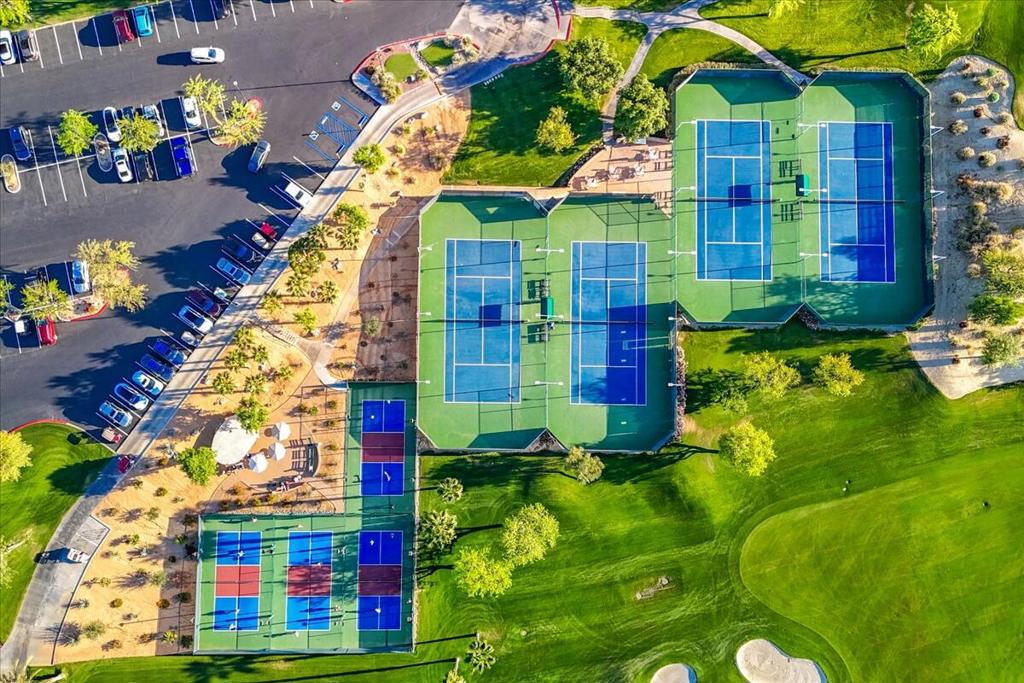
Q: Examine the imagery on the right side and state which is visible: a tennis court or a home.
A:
tennis court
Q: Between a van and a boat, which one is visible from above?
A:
van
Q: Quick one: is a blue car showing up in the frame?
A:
Yes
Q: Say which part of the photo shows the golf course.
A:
bottom right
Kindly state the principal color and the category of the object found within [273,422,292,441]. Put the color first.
white umbrella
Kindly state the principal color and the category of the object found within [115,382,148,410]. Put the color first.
blue car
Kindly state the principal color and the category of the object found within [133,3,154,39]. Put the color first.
blue truck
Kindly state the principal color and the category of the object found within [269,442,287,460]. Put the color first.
white umbrella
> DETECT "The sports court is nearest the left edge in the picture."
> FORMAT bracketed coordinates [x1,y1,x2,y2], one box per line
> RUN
[200,514,274,648]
